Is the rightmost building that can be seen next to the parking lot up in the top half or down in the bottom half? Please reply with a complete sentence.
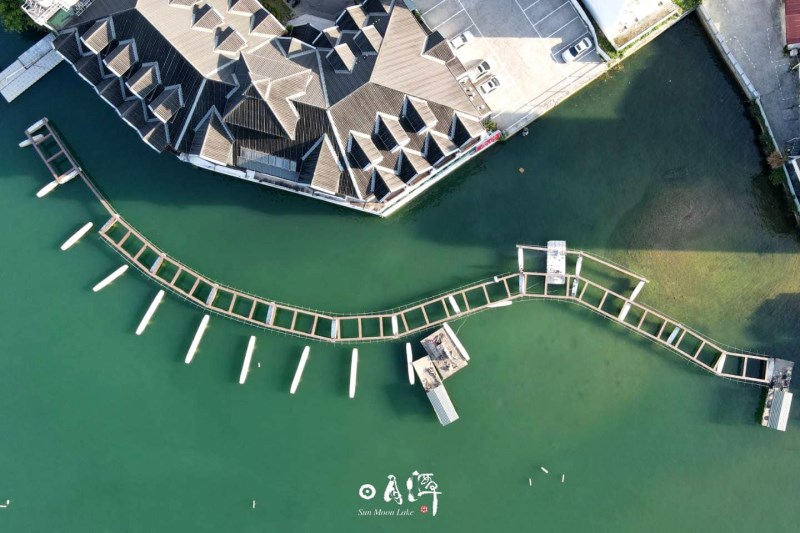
Seen from above, the rightmost building that can be seen next to the parking lot lies in the top half of the view.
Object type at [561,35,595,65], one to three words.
car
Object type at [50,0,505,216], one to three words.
building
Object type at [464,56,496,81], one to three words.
car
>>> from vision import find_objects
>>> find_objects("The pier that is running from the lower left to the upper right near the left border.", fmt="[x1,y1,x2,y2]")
[0,34,67,104]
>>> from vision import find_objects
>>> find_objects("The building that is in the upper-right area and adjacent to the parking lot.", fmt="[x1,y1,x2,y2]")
[587,0,686,51]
